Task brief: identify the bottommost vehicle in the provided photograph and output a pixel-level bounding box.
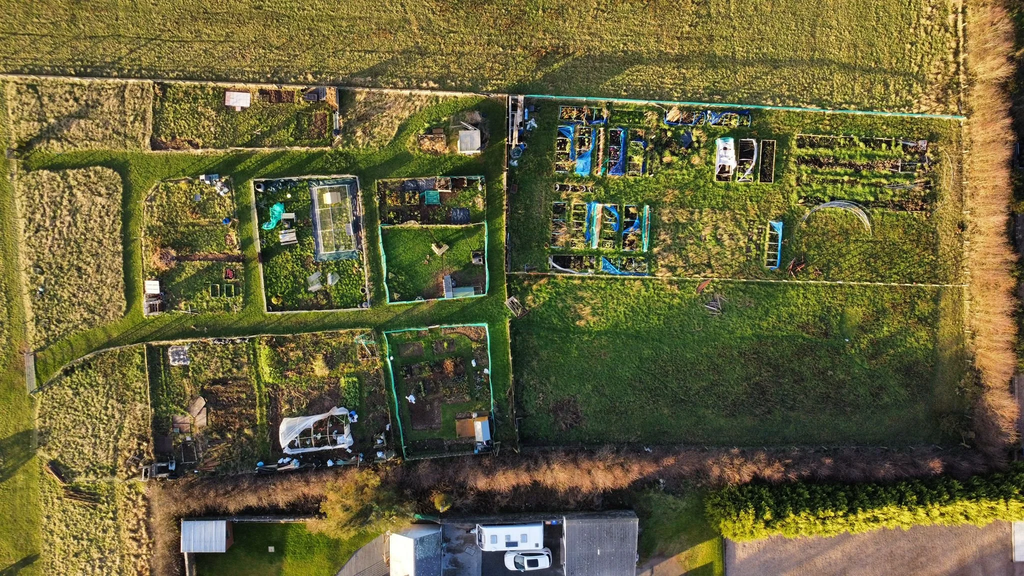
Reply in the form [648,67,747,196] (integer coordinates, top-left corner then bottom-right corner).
[505,547,550,573]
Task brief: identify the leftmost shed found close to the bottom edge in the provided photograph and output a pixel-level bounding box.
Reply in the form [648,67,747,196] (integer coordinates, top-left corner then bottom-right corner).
[180,515,234,553]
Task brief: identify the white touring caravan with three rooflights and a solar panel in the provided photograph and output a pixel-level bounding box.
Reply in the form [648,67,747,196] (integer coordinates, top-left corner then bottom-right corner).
[470,516,543,551]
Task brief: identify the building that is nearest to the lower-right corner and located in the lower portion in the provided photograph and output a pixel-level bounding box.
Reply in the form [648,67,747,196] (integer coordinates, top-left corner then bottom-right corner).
[562,500,641,575]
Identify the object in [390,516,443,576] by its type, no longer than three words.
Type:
shed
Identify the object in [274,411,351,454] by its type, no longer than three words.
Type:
greenhouse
